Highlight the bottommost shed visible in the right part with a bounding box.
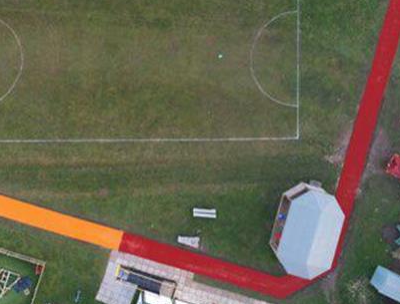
[359,258,400,302]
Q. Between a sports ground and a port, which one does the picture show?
sports ground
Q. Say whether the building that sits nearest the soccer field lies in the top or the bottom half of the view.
bottom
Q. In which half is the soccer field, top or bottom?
top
